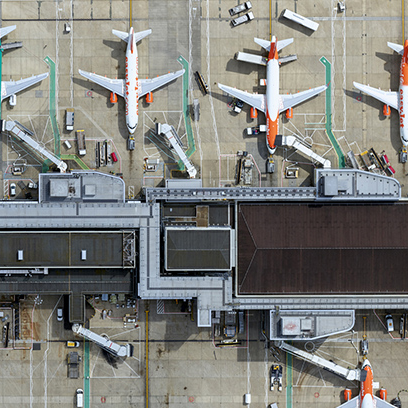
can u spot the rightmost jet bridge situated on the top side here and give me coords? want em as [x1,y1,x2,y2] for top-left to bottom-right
[276,134,332,169]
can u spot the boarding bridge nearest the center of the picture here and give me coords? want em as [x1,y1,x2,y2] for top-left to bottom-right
[155,123,198,180]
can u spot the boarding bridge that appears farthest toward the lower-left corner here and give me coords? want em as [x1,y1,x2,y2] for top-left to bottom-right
[72,321,134,358]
